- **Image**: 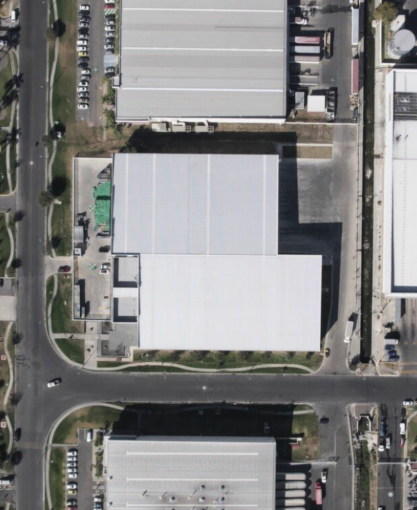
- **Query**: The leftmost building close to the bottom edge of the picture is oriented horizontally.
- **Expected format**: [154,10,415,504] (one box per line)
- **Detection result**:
[106,433,276,510]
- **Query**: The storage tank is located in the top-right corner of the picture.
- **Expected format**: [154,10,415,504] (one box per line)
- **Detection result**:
[385,27,417,60]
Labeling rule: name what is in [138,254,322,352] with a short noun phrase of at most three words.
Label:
building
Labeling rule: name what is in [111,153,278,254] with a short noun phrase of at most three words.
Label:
building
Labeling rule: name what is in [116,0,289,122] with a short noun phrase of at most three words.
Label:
warehouse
